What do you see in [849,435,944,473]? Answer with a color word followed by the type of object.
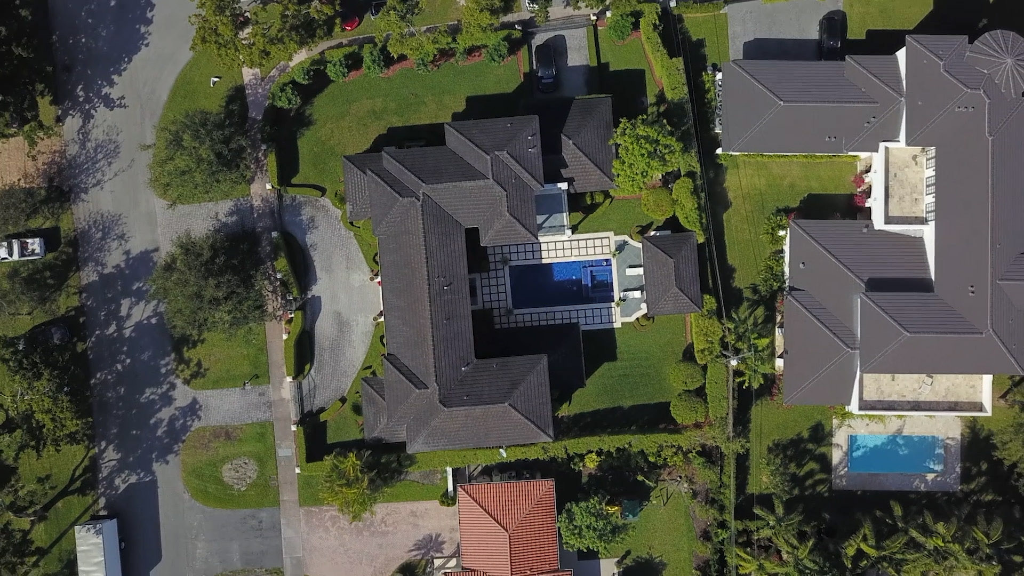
blue swimming pool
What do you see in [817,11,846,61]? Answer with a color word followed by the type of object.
black car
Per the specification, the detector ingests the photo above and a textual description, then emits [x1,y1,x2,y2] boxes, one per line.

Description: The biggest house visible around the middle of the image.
[342,96,616,453]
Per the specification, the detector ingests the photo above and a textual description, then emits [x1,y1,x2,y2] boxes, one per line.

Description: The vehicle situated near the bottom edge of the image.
[75,512,123,576]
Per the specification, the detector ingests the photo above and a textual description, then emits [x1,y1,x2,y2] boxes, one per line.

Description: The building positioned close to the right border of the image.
[721,28,1024,416]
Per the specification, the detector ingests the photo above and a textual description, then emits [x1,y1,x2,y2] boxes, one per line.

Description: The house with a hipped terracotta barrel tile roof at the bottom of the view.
[433,476,573,576]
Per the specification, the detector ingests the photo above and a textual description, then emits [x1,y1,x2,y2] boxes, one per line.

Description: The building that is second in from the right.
[640,231,702,317]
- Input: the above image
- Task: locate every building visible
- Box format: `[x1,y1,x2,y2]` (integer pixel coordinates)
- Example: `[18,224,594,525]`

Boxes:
[433,476,573,576]
[342,96,616,453]
[640,231,702,317]
[721,28,1024,416]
